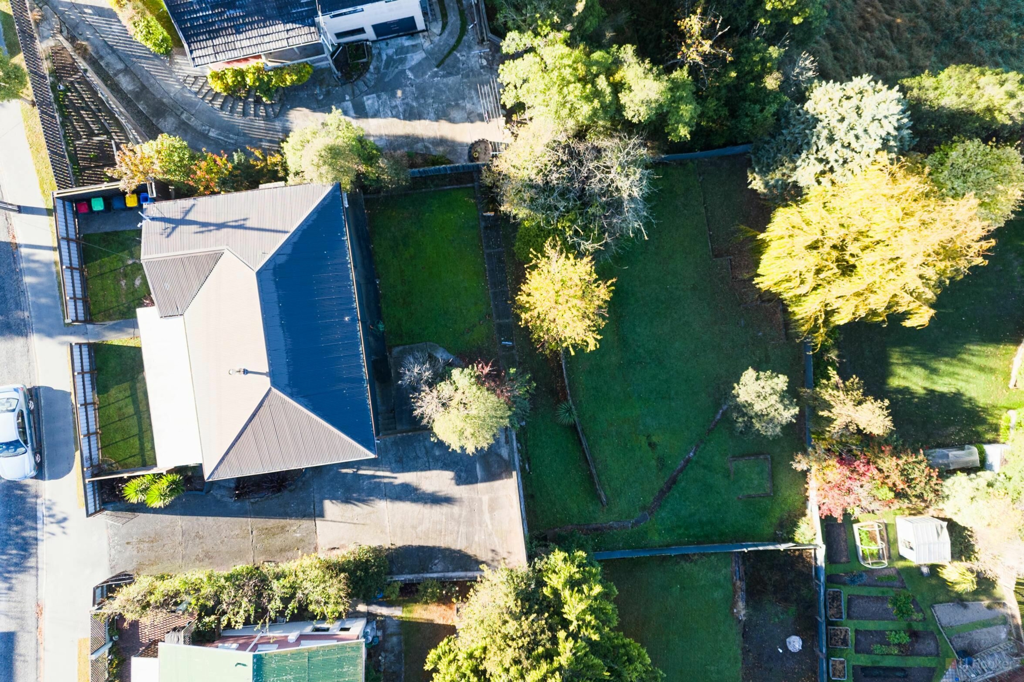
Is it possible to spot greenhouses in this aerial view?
Yes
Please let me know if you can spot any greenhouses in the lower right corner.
Yes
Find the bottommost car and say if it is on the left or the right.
left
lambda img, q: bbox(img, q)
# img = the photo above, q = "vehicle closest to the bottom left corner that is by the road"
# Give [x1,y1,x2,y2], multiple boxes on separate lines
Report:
[0,386,39,481]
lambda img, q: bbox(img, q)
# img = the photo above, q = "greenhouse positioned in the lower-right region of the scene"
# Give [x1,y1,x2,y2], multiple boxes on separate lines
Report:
[889,520,951,571]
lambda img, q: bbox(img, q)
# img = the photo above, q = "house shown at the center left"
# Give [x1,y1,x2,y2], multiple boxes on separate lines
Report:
[129,180,382,484]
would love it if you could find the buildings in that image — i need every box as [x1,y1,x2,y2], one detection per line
[889,520,951,571]
[131,616,370,682]
[129,180,382,484]
[164,0,428,84]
